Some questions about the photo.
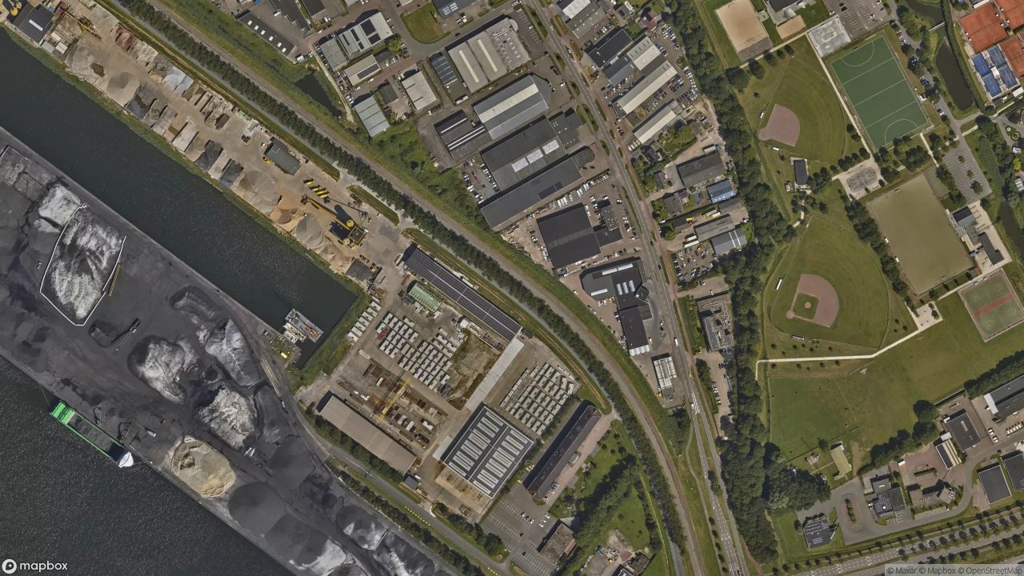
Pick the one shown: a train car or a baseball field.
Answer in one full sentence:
Of the two, only a baseball field appears.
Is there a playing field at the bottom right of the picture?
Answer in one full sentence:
Yes, looking at the bottom right of the picture, one can make out a playing field.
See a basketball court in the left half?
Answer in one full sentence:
No, in the left half there is no basketball court.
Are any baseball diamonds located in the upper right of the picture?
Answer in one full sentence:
Yes, looking in the upper right of the picture, one can make out a baseball diamond.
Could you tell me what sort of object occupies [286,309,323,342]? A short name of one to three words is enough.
pier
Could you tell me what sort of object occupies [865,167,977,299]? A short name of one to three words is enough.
sports field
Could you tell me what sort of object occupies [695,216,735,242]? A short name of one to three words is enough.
building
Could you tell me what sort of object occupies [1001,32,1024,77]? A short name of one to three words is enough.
tennis court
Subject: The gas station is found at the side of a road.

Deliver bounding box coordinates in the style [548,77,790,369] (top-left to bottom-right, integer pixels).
[653,356,677,397]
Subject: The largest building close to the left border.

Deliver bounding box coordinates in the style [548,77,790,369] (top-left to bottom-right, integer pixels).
[12,3,55,47]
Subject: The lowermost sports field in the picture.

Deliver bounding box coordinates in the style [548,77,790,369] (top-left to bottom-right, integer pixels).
[769,377,859,463]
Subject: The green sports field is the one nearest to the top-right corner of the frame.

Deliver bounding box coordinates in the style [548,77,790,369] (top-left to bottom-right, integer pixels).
[827,32,933,153]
